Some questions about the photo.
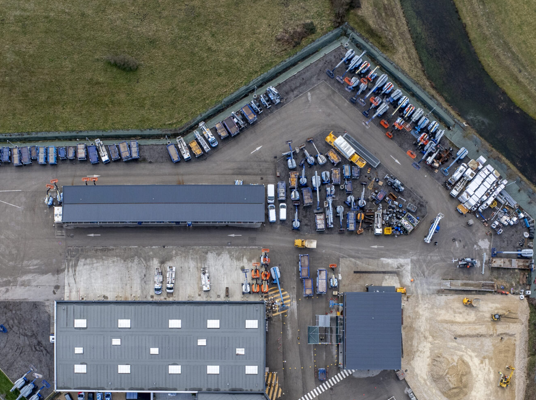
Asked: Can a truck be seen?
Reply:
Yes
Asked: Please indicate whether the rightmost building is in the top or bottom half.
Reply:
bottom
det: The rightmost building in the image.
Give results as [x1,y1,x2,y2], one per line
[339,286,401,369]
